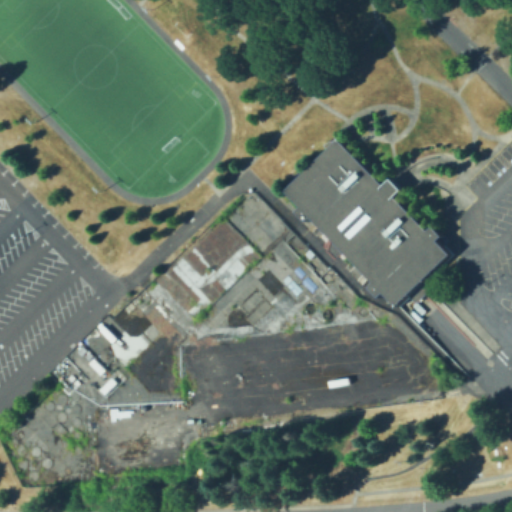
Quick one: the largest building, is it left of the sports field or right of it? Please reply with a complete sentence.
The largest building can be seen on the right of the sports field.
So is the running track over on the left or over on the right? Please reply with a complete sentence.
You can find the running track on the left side of the picture.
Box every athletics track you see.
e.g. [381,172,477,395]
[0,0,233,204]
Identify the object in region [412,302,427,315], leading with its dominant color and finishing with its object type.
white vehicle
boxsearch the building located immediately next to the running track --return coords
[284,140,450,306]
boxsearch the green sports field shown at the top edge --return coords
[0,0,225,196]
